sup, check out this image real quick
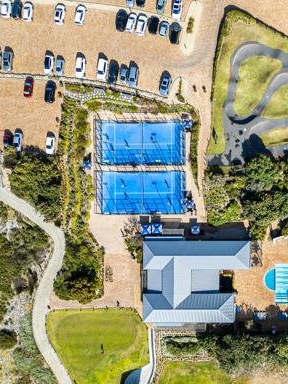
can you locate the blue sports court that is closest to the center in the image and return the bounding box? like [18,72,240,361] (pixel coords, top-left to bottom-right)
[95,169,185,214]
